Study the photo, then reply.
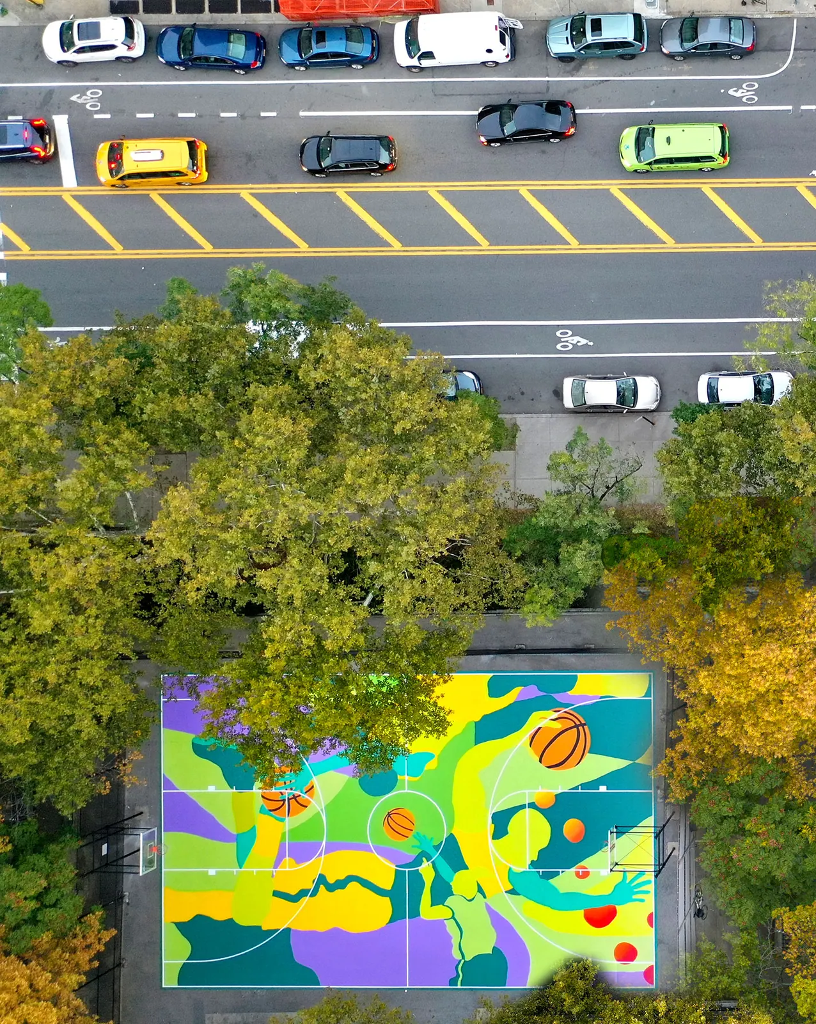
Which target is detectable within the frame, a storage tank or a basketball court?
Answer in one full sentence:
Of the two, only a basketball court appears.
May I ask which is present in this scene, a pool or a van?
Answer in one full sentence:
The image shows a van.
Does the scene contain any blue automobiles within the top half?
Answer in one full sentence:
Yes, a blue automobile is visible within the top half.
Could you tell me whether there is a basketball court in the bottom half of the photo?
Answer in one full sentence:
Yes, looking in the bottom half of the photo, one can make out a basketball court.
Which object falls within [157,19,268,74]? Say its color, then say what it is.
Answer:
blue car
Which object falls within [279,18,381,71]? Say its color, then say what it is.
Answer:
blue car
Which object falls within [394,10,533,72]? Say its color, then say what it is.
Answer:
white van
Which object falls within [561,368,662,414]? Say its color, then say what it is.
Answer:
white car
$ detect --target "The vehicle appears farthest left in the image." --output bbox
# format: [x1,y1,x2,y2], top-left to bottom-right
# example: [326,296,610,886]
[0,117,56,165]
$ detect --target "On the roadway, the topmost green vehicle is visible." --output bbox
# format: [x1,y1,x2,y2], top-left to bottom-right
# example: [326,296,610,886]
[619,119,730,173]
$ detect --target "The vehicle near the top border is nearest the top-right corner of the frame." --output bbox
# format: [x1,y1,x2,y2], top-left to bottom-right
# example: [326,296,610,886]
[661,10,757,62]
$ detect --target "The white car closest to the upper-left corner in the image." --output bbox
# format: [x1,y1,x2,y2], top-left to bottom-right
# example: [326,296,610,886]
[41,13,148,68]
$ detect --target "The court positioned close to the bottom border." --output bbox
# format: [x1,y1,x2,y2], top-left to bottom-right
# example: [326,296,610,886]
[160,670,658,993]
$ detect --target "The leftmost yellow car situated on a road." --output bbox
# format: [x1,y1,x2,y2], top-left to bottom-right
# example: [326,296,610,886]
[95,134,210,189]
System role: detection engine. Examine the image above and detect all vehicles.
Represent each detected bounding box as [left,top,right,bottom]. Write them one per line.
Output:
[157,19,268,74]
[561,368,662,414]
[41,13,148,68]
[394,10,533,72]
[0,117,56,165]
[546,8,648,63]
[95,134,210,189]
[697,364,794,410]
[279,18,381,71]
[619,119,730,173]
[300,127,399,178]
[476,95,578,148]
[661,10,757,62]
